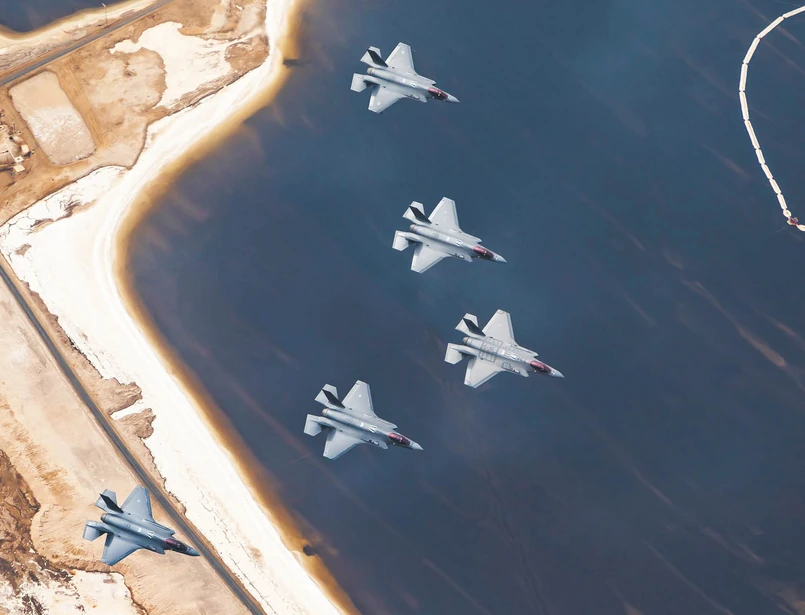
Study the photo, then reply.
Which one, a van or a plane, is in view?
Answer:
plane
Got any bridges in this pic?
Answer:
No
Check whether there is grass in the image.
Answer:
No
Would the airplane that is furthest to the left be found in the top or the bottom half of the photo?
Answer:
bottom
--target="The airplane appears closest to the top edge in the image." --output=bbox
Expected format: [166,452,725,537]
[351,42,458,113]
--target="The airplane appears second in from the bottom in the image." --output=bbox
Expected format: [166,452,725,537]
[304,381,422,460]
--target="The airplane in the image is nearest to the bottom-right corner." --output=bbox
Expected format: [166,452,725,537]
[445,310,563,388]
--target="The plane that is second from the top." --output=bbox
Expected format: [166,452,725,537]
[393,197,505,273]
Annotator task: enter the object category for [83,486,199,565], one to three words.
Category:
airplane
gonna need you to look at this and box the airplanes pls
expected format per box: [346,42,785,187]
[393,197,505,273]
[351,42,458,113]
[83,486,199,565]
[304,381,422,460]
[445,310,563,388]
